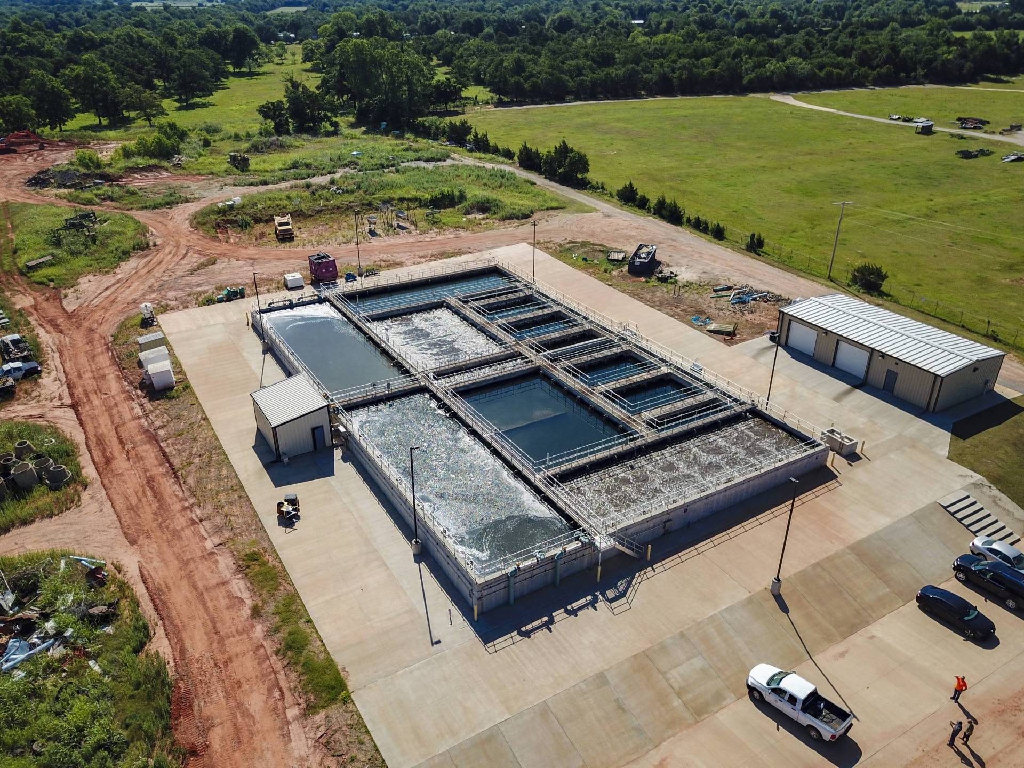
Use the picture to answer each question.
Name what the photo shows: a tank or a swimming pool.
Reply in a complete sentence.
It is a tank that can be seen here.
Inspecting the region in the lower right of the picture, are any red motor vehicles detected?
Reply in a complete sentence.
No, I can find no red motor vehicle in the lower right of the picture.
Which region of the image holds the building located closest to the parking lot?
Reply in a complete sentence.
The building located closest to the parking lot appears toward the right of the photo.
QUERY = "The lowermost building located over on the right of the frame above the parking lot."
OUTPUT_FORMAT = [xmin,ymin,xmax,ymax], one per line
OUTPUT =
[772,290,1005,415]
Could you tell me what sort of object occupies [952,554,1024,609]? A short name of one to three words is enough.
car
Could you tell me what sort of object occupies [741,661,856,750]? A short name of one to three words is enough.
truck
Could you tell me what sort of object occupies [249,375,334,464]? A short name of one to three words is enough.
shed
